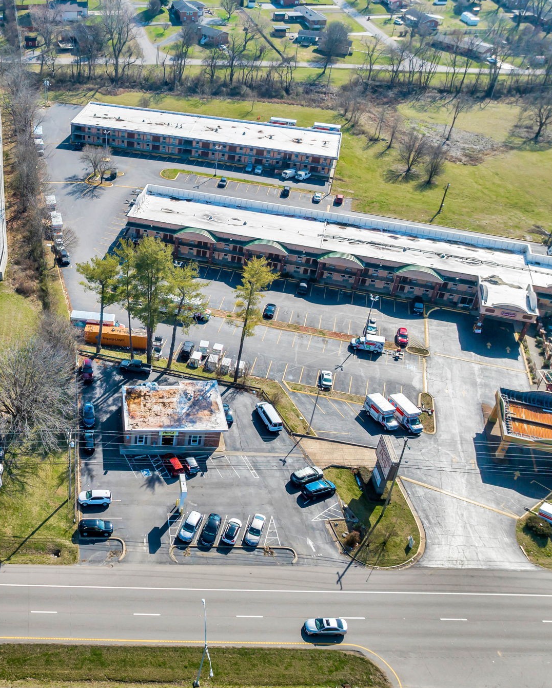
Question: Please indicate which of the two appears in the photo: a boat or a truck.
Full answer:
Looking from above, you can make out a truck.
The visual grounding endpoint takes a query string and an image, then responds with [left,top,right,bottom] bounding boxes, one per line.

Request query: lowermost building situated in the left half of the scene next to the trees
[121,378,229,445]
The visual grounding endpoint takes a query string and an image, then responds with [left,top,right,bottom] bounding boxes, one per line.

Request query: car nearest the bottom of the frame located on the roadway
[302,618,348,639]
